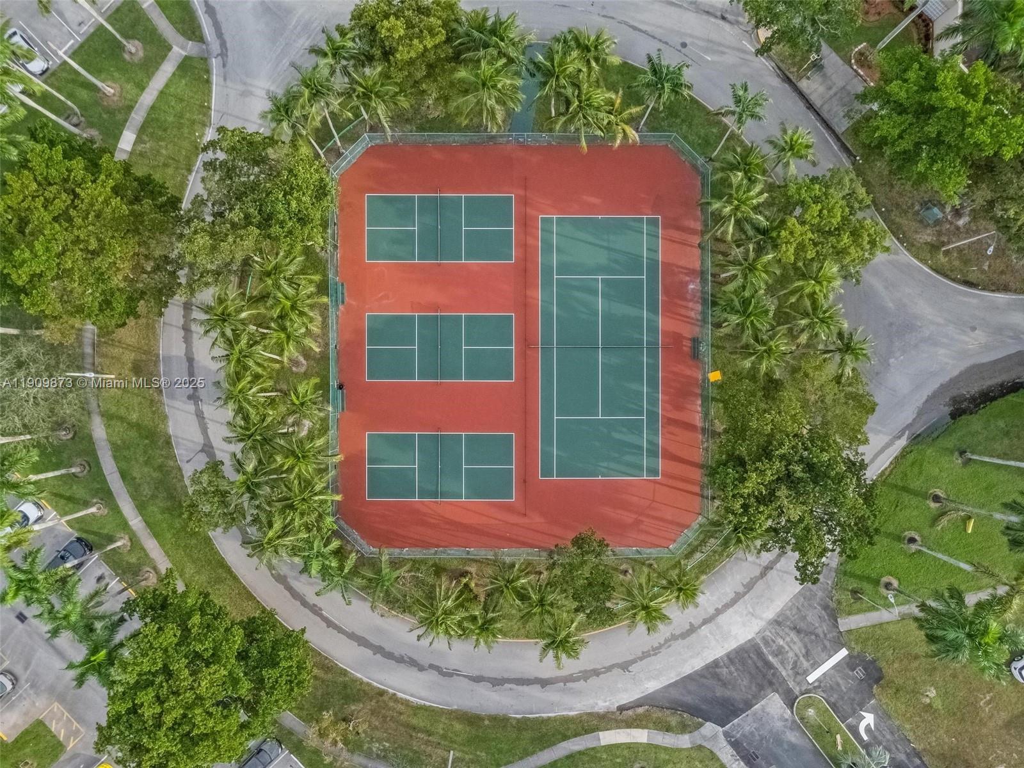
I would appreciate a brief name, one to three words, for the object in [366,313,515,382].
sports court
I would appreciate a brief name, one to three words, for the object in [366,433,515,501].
sports court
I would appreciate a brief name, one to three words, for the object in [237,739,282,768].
car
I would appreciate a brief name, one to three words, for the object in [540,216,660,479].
tennis court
